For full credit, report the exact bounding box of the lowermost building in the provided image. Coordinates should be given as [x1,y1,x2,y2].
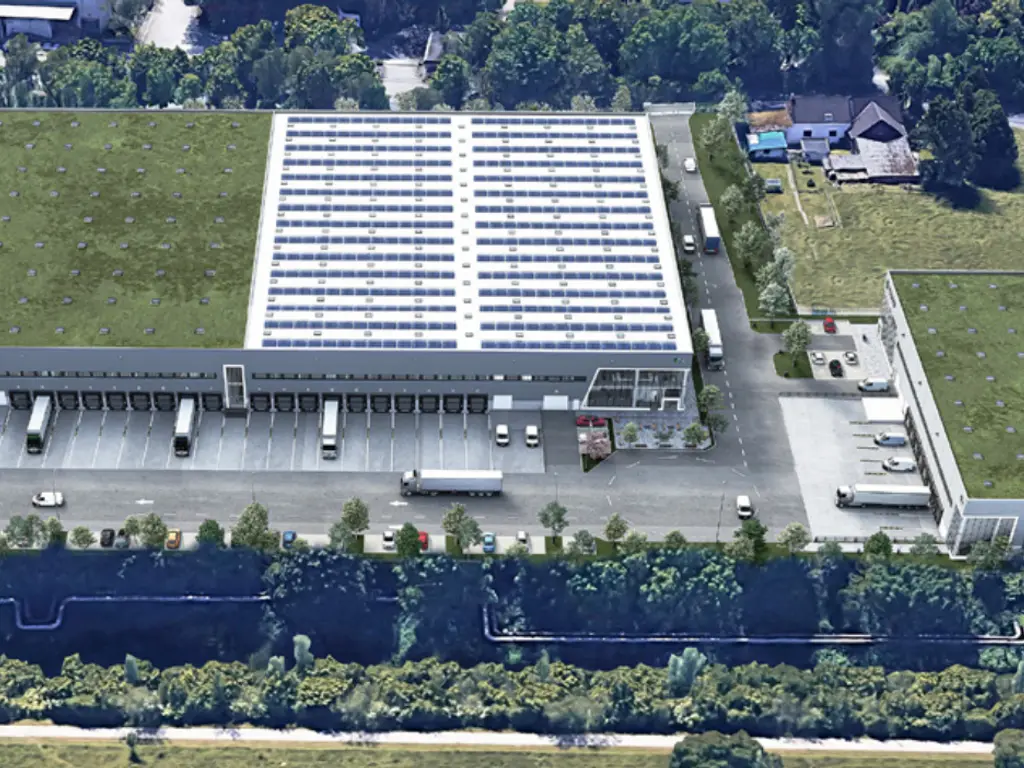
[878,270,1024,555]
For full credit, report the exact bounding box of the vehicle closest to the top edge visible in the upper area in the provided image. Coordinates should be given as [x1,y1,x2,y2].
[684,157,696,173]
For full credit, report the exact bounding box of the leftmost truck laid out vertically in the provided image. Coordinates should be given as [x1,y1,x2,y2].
[23,398,50,454]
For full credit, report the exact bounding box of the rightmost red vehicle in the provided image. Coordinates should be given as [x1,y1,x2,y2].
[824,315,837,334]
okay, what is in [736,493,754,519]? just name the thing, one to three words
vehicle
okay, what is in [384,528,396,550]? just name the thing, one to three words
vehicle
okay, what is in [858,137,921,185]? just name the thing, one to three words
barn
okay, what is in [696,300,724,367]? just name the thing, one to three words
truck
